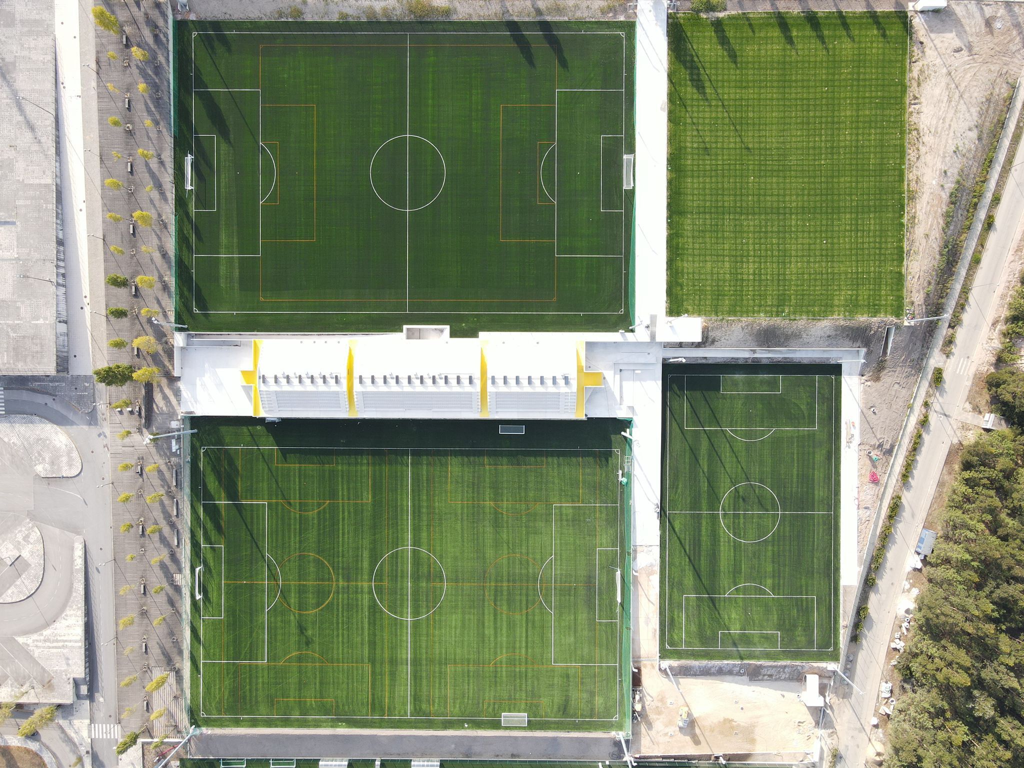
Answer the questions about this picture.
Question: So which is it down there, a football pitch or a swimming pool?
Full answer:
This aerial view contains a football pitch.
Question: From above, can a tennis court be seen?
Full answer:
No, I can't see a single tennis court in this photo.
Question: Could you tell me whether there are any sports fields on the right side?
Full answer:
Yes, a sports field appears on the right side.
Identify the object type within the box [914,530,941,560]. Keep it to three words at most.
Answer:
building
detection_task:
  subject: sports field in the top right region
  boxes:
[666,10,909,318]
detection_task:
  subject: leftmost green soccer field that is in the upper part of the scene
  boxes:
[175,21,635,338]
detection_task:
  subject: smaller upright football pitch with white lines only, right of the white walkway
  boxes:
[660,364,842,662]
